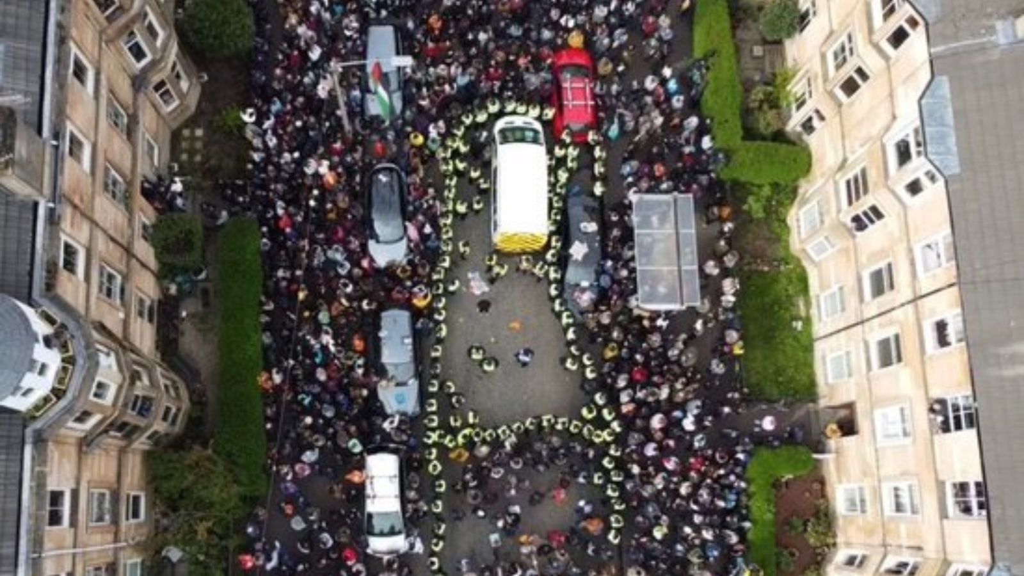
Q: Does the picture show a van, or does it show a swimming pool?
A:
van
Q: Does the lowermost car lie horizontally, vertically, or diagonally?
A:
vertically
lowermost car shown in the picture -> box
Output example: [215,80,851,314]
[358,447,413,559]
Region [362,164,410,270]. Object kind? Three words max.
car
